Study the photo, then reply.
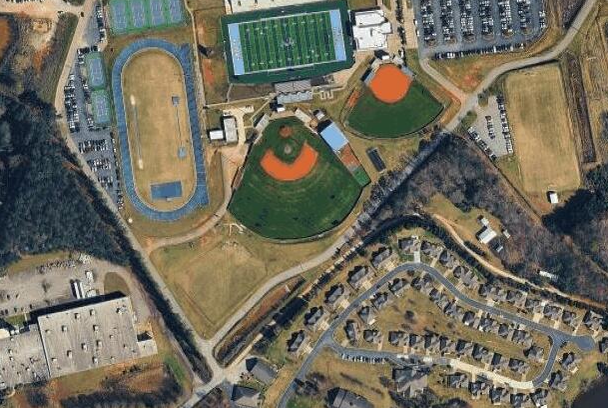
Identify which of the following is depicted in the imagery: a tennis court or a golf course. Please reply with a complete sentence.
Of the two, only a tennis court appears.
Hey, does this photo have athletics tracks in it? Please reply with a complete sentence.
Yes, this view includes an athletics track.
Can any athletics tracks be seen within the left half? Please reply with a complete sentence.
Yes, an athletics track shows up within the left half.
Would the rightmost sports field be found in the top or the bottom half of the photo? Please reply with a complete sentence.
Seen from above, the rightmost sports field lies in the top half of the view.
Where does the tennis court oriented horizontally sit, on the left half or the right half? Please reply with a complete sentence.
It is on the left.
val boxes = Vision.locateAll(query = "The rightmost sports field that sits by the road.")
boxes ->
[506,64,582,197]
